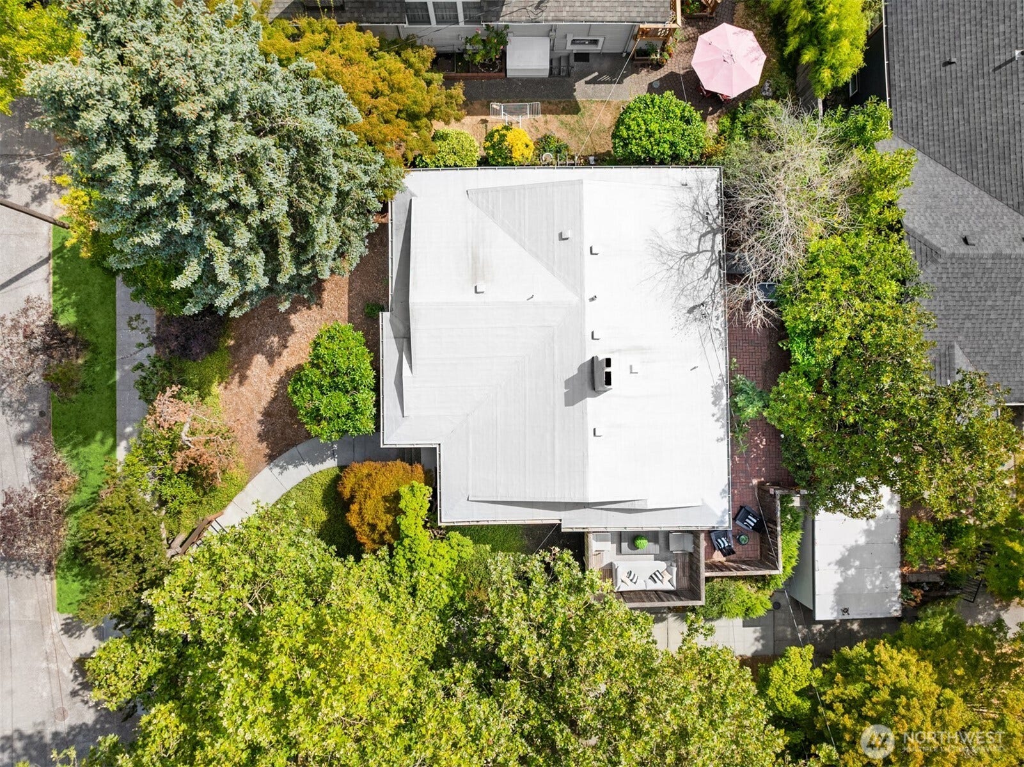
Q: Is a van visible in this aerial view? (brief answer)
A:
No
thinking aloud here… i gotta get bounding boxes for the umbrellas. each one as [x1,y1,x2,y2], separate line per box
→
[691,23,766,99]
